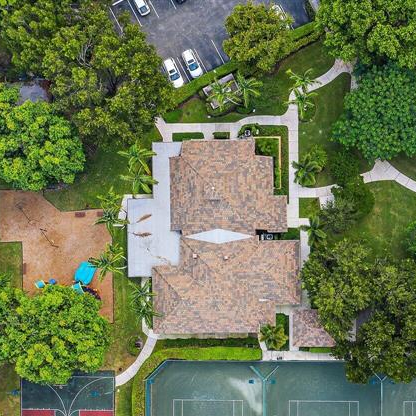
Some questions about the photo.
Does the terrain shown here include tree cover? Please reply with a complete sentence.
Yes, tree cover can be seen from above here.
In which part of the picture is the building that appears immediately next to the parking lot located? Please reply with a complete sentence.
The building that appears immediately next to the parking lot appears toward the center of the photo.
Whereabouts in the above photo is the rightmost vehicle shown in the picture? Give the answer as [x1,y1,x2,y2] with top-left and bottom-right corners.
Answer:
[181,45,204,78]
